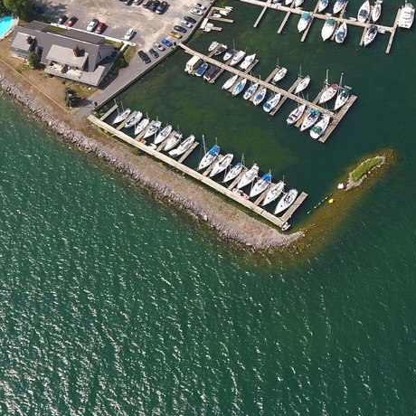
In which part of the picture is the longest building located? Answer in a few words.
top left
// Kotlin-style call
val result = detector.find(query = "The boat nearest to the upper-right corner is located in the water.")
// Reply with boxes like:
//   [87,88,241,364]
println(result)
[397,0,415,32]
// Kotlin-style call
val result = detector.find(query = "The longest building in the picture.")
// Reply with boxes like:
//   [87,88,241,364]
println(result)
[11,15,122,89]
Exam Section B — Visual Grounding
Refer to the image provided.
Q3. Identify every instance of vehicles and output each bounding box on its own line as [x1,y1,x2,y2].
[153,41,167,52]
[190,7,205,16]
[148,46,162,59]
[67,16,79,26]
[137,49,153,62]
[156,2,167,14]
[149,0,161,10]
[183,15,198,24]
[192,1,208,10]
[168,29,183,40]
[173,24,188,34]
[86,19,99,31]
[57,14,70,25]
[123,28,136,40]
[180,18,194,28]
[95,21,107,33]
[140,0,153,10]
[132,0,145,6]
